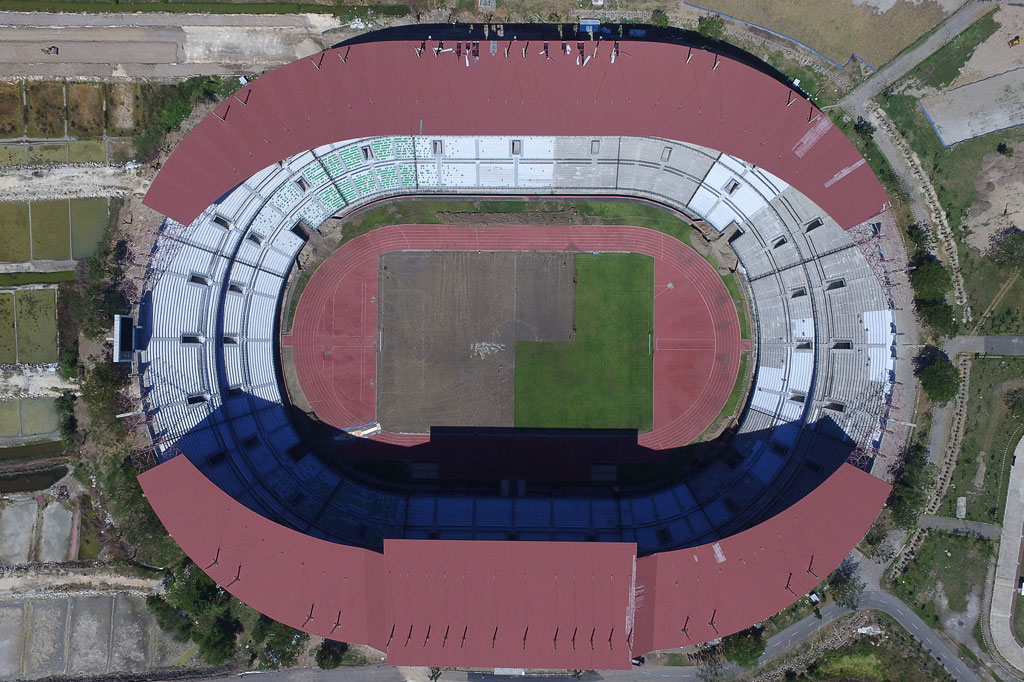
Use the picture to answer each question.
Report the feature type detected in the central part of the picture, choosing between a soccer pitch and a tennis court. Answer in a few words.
soccer pitch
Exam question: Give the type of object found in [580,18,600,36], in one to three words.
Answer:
shed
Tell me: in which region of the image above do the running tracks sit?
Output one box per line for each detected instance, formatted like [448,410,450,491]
[282,226,749,479]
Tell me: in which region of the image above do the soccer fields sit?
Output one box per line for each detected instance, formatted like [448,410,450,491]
[376,251,654,434]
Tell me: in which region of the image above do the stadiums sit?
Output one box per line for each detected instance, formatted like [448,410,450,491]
[112,41,920,669]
